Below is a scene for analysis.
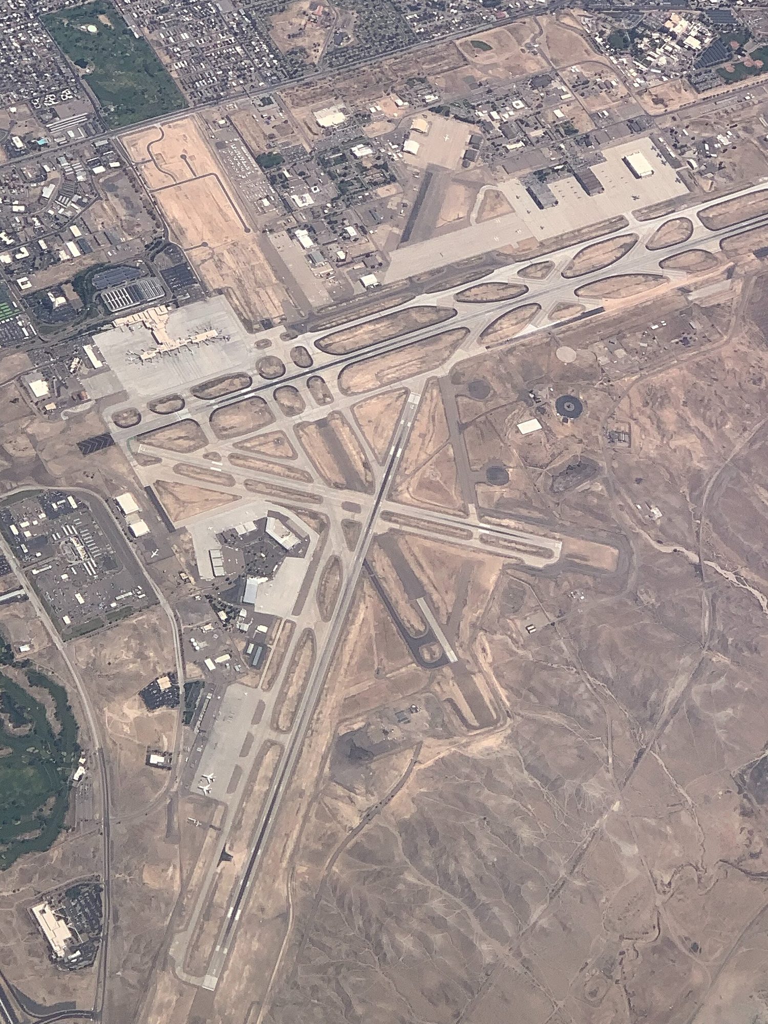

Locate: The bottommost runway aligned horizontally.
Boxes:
[139,448,562,550]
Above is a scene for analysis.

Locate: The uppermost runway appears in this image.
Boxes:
[112,218,768,441]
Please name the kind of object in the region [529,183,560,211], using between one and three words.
hangar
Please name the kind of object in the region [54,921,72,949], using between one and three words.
building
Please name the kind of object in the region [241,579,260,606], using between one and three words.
hangar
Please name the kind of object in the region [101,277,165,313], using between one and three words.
building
